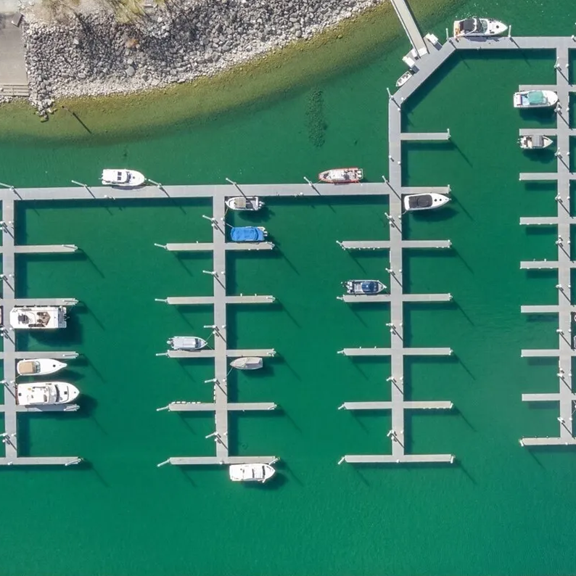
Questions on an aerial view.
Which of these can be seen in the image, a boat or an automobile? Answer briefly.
boat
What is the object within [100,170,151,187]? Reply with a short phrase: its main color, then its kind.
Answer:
white boat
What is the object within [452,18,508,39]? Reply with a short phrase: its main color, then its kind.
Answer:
white boat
